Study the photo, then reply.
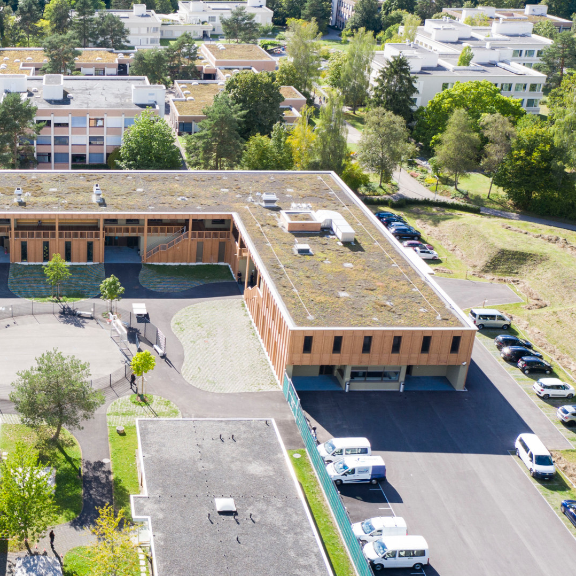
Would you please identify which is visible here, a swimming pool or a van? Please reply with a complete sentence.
Looking from above, you can make out a van.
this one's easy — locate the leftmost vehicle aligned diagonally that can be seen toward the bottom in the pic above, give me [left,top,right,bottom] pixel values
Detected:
[508,435,562,480]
